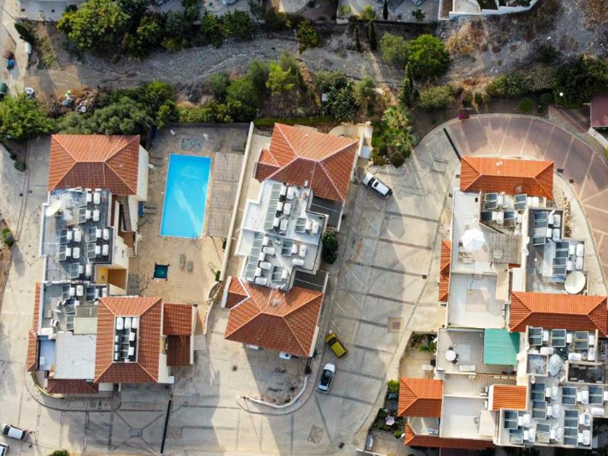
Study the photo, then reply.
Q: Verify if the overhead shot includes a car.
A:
Yes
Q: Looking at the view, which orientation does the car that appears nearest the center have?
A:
diagonally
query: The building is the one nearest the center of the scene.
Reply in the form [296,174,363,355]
[221,122,359,357]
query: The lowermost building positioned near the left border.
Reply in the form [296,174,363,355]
[27,134,198,394]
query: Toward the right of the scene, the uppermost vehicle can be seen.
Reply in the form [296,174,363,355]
[362,172,392,198]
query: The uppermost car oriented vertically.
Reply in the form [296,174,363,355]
[319,362,337,394]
